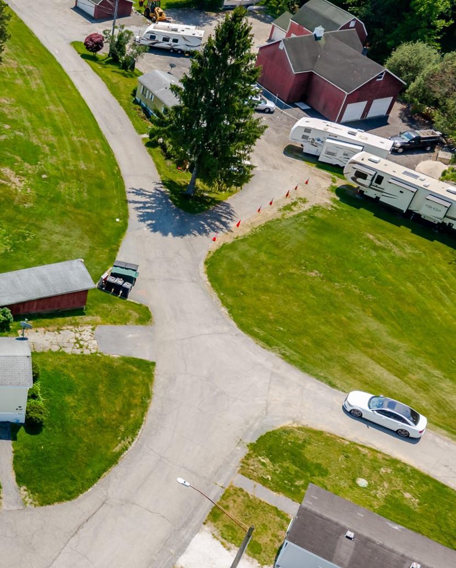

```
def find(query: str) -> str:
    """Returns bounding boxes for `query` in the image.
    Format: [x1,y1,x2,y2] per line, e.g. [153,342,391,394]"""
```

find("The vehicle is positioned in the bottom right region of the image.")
[344,391,430,438]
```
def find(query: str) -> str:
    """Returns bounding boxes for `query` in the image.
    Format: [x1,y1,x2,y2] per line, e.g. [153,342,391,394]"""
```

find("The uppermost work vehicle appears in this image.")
[138,0,178,21]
